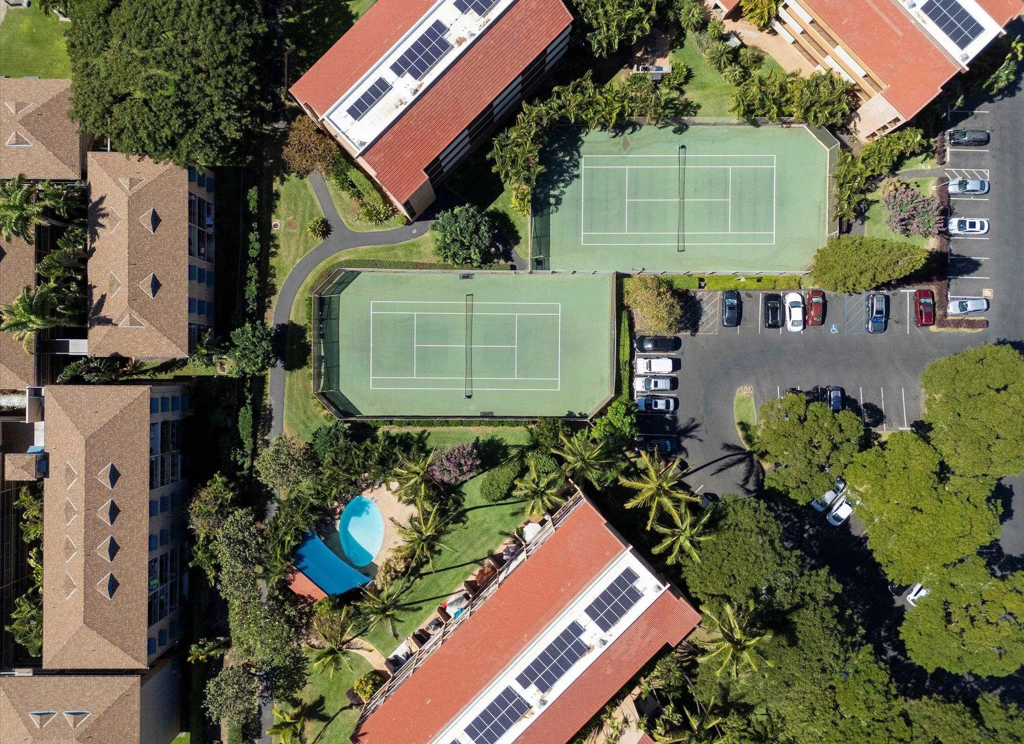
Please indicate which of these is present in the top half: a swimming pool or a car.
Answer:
car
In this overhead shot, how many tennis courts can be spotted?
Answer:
2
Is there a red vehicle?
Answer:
Yes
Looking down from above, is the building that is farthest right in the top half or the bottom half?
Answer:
top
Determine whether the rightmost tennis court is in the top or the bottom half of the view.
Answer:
top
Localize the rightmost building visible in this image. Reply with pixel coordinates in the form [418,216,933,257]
[761,0,1024,144]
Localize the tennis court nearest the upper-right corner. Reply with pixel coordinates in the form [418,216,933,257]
[533,125,827,270]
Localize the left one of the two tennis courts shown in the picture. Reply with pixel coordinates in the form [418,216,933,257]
[322,273,609,416]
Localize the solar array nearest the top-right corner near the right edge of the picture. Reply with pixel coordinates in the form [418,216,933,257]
[921,0,983,50]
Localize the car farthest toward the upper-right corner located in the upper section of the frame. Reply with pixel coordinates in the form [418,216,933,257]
[945,128,989,148]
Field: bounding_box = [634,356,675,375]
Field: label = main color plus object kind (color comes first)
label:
white car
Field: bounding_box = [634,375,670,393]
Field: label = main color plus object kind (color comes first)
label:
white car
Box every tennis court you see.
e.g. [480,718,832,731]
[322,273,609,416]
[533,125,827,270]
